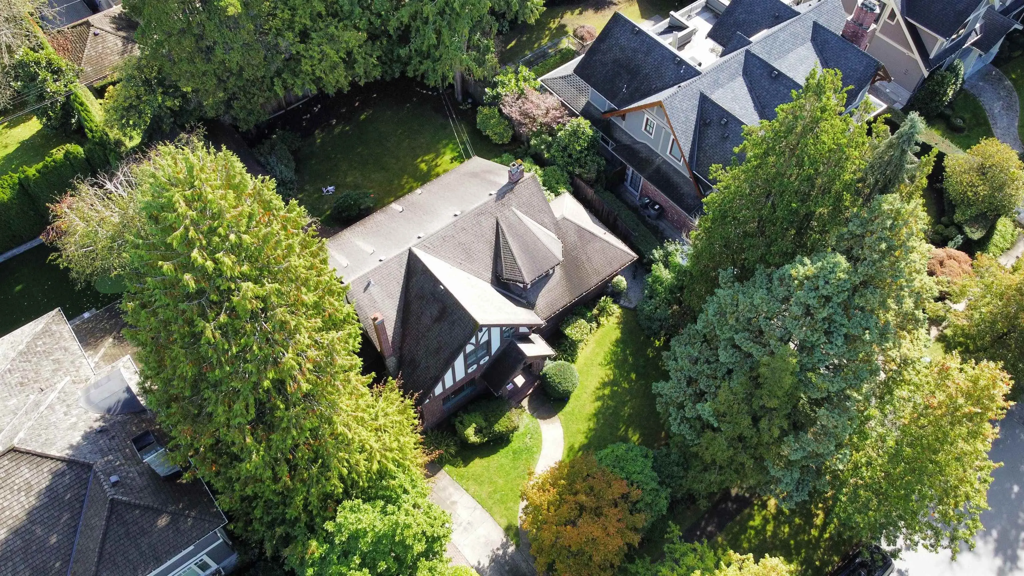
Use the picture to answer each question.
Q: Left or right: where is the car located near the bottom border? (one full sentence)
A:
You can find the car located near the bottom border on the right side of the picture.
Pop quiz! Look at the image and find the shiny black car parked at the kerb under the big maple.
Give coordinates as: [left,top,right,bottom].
[830,539,899,576]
